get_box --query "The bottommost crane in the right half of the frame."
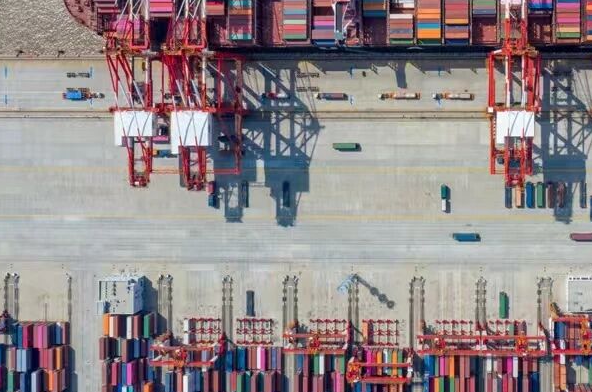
[347,346,415,381]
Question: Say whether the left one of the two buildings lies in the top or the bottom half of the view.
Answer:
bottom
